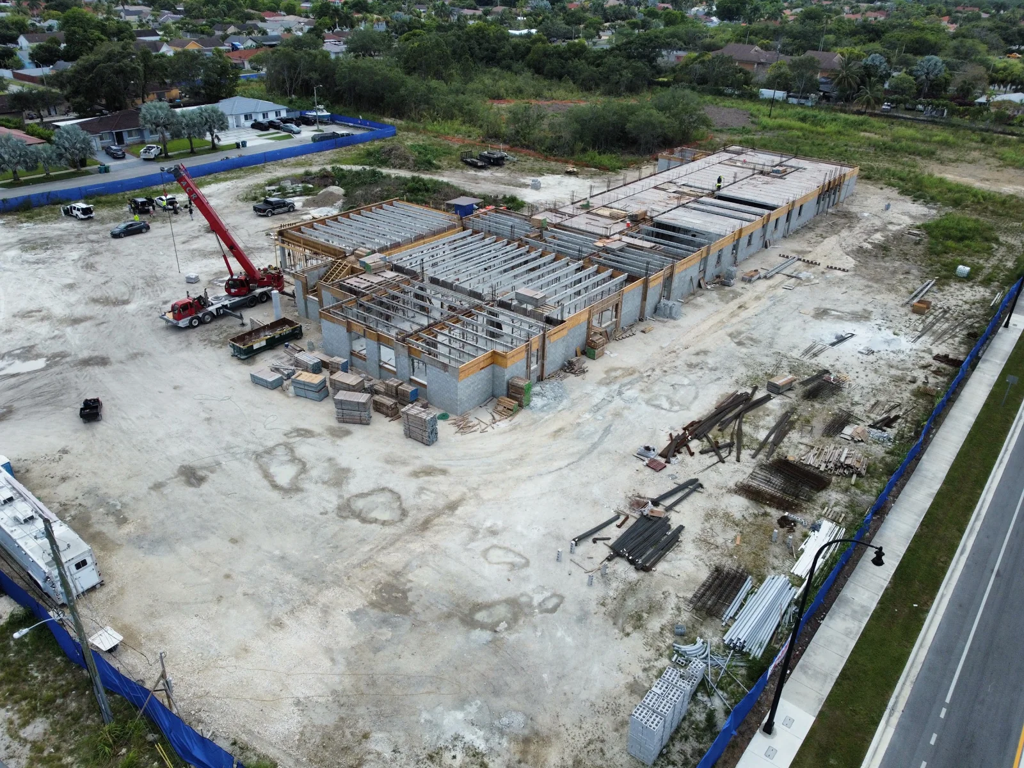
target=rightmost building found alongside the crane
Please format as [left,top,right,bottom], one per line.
[274,143,860,416]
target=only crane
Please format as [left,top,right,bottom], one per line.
[150,155,299,327]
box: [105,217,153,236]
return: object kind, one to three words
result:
car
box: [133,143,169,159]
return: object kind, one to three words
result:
vehicle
